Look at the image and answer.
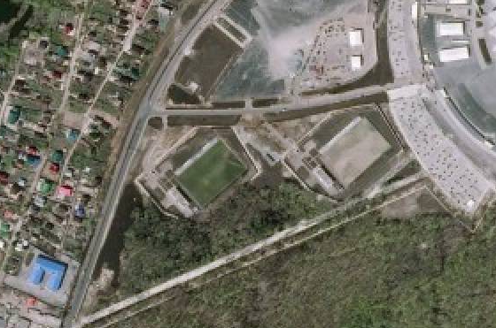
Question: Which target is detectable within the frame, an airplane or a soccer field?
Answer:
soccer field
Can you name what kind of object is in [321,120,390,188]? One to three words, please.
sports field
